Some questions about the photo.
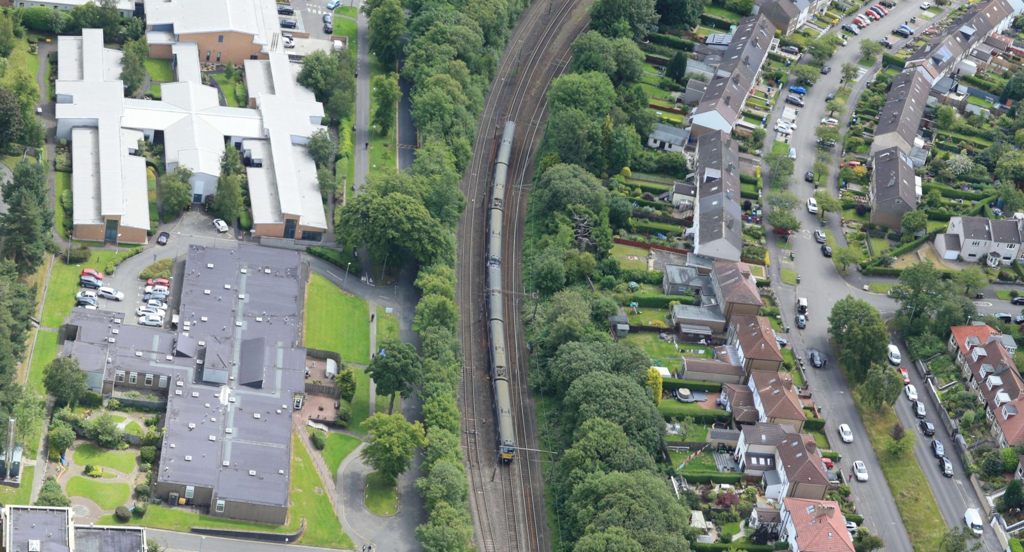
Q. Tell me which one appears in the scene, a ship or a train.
train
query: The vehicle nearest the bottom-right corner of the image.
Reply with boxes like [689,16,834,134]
[963,507,984,533]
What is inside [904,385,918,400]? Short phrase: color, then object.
white car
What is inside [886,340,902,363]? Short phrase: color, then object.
white vehicle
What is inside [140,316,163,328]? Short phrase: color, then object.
white vehicle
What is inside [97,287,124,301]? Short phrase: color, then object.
white car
